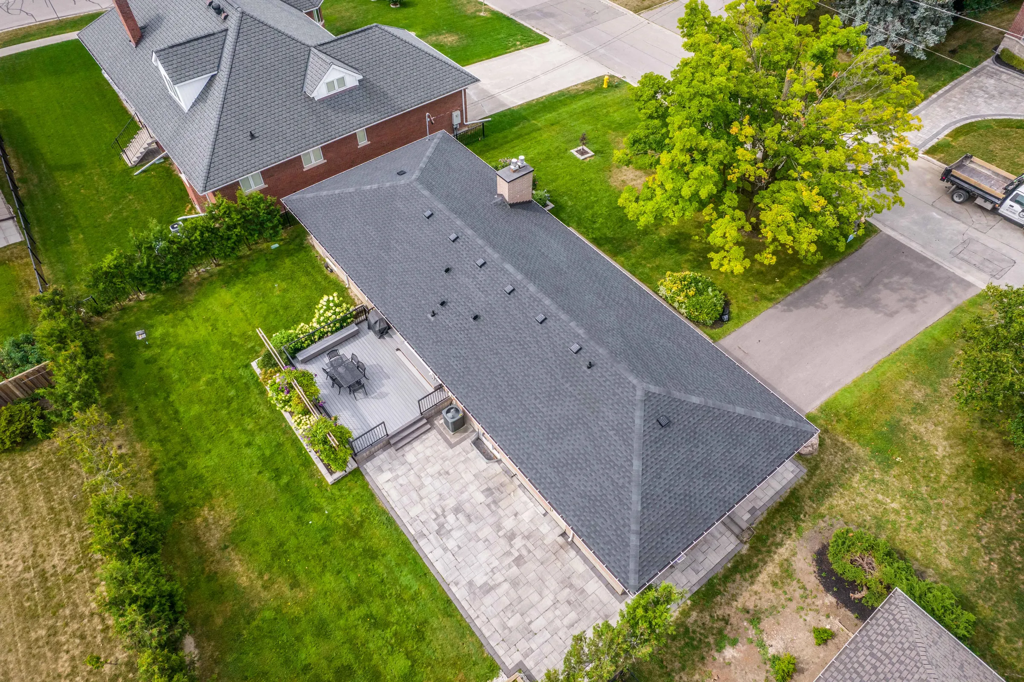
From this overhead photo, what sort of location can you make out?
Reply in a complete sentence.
The picture captures a residential area.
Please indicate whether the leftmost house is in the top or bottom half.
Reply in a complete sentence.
You can find the leftmost house in the top half.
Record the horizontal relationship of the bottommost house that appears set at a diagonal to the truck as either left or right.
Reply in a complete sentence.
Looking at the picture, you'll find the bottommost house that appears set at a diagonal to the left of the truck.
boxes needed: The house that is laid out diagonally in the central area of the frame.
[281,113,820,598]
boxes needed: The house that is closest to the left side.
[75,0,493,218]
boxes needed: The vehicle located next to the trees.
[937,152,1024,235]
